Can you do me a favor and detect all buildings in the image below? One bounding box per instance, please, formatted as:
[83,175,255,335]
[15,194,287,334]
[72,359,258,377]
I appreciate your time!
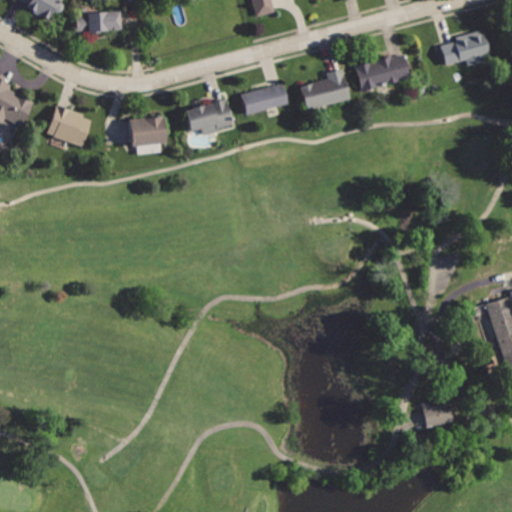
[254,0,274,16]
[241,84,288,115]
[356,55,410,92]
[76,10,124,32]
[188,96,234,134]
[302,68,350,107]
[131,114,168,156]
[440,30,492,66]
[486,299,512,364]
[32,0,65,19]
[0,78,36,128]
[422,401,454,428]
[46,106,92,146]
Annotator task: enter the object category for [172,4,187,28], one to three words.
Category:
swimming pool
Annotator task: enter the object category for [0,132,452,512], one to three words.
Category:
golf course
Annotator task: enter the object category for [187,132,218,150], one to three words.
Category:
swimming pool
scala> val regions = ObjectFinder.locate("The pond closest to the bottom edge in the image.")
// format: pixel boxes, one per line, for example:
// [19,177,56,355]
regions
[278,470,442,512]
